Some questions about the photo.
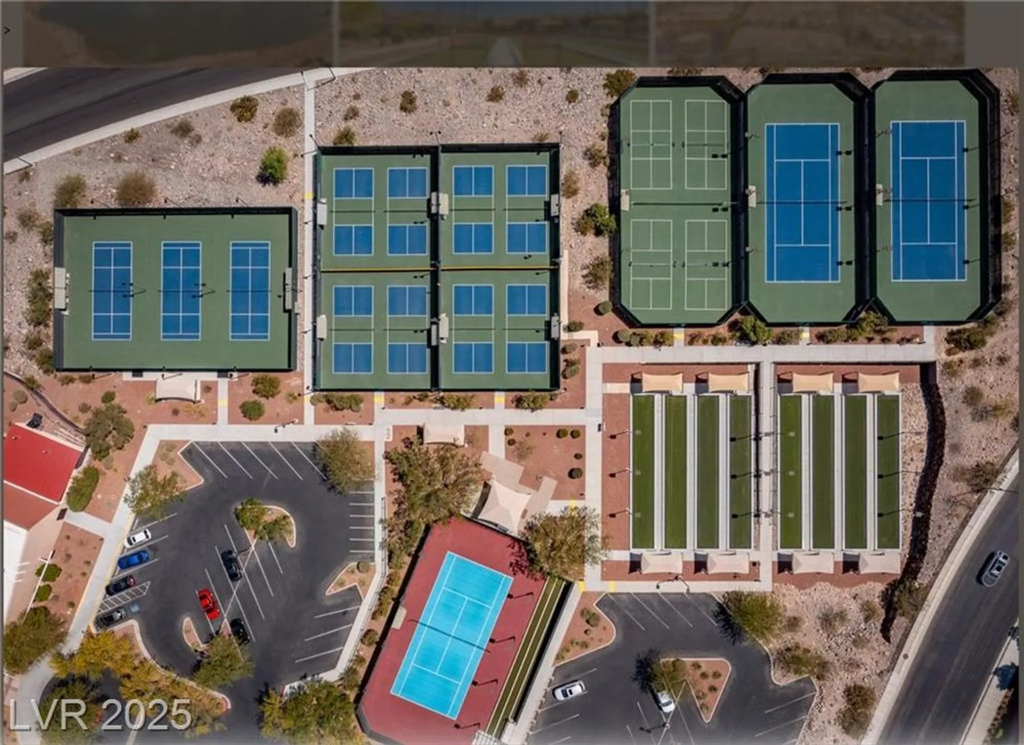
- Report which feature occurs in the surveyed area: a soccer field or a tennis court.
tennis court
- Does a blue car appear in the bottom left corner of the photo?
Yes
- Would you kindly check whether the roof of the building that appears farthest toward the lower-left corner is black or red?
red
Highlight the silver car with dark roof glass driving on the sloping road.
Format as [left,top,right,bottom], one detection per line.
[980,550,1009,586]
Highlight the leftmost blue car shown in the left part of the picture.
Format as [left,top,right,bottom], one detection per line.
[118,548,152,570]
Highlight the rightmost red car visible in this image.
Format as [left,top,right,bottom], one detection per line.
[199,588,220,620]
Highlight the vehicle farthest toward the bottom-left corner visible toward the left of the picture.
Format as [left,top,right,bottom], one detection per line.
[95,607,129,630]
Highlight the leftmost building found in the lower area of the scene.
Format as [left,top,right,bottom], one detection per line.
[0,421,91,639]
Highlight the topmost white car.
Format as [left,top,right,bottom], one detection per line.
[123,527,155,549]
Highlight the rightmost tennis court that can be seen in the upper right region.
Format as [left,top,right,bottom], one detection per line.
[873,77,989,326]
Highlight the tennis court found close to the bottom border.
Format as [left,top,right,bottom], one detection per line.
[361,517,573,745]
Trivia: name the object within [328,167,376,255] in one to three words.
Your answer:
sports court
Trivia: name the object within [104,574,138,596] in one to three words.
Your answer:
car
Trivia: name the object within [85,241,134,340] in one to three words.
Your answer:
tennis court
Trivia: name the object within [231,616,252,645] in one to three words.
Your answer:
car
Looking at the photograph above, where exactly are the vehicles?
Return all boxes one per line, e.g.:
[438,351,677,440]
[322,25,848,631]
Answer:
[199,588,220,620]
[123,527,155,549]
[104,574,138,596]
[118,548,152,570]
[553,680,586,702]
[654,685,677,717]
[221,548,243,581]
[231,616,252,645]
[95,607,129,630]
[980,550,1009,586]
